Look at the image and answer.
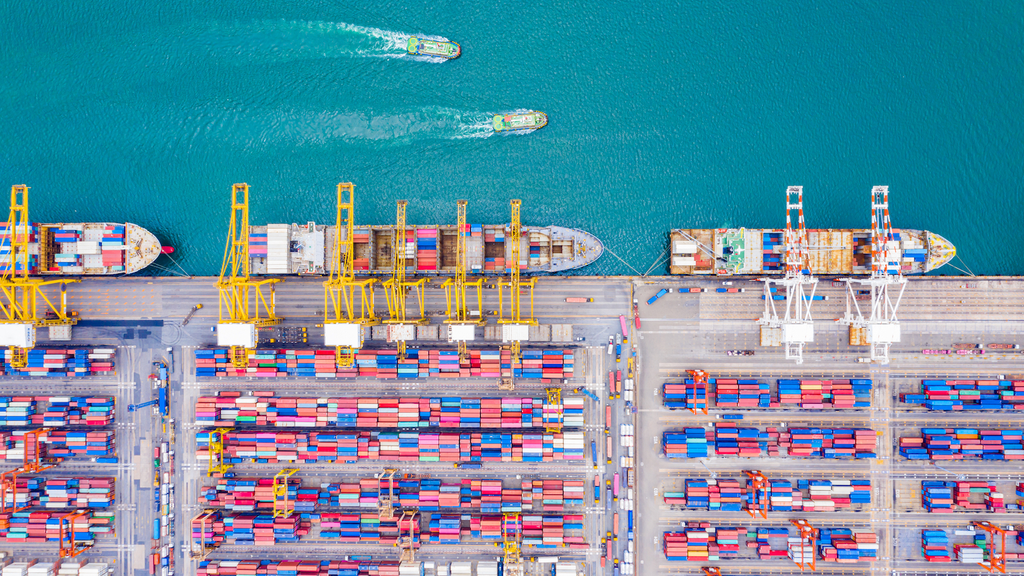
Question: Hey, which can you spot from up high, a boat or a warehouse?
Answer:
boat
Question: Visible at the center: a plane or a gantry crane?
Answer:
gantry crane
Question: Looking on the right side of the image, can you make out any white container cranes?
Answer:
Yes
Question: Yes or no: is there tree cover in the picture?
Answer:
No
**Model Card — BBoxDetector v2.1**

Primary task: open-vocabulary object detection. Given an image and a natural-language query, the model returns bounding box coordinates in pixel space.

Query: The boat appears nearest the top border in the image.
[407,34,462,60]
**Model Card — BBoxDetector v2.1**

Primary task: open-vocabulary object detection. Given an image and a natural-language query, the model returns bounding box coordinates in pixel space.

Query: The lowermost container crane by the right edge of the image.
[968,517,1009,573]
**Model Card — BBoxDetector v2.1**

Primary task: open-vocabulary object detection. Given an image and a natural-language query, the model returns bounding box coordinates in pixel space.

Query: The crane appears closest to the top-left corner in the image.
[0,184,78,369]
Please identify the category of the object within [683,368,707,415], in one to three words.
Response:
container crane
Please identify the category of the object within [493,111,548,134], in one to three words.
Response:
boat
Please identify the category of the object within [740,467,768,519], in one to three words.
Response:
container crane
